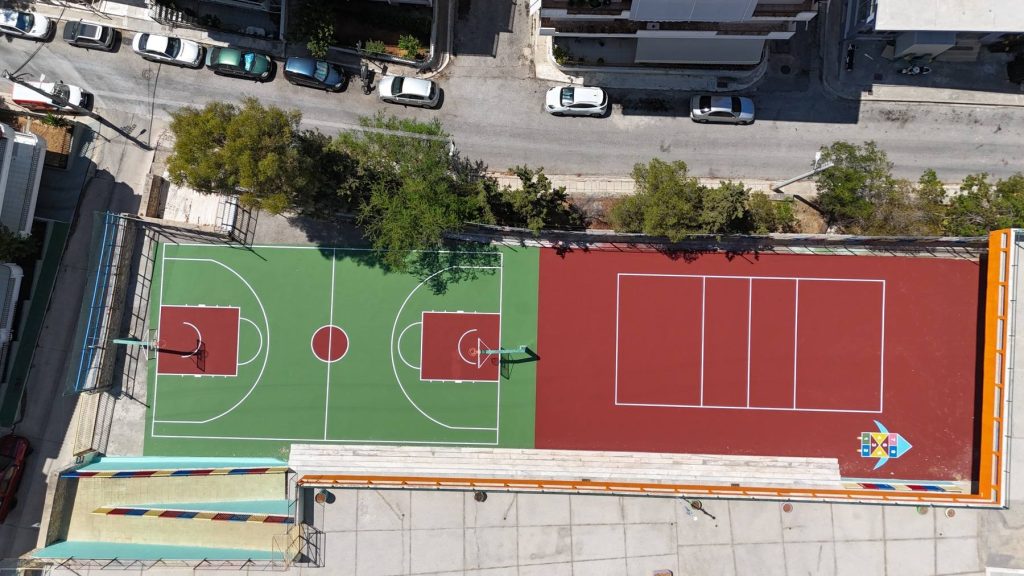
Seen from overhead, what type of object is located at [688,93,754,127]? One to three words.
car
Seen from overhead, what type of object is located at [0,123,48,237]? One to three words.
building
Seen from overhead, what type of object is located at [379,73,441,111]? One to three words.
car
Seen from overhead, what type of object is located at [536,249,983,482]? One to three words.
sports court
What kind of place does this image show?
sports ground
